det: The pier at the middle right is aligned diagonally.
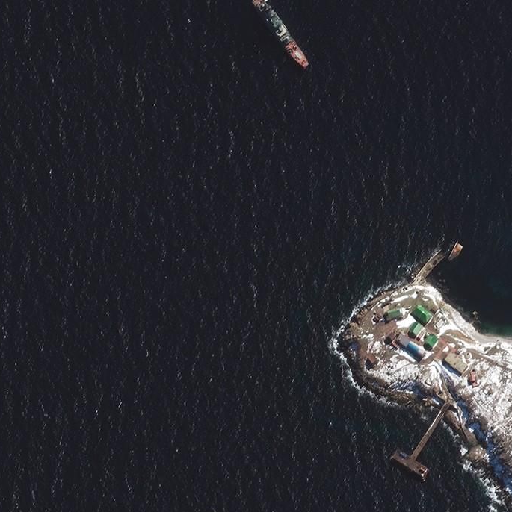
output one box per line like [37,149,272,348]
[413,250,444,285]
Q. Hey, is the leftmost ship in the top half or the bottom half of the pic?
top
